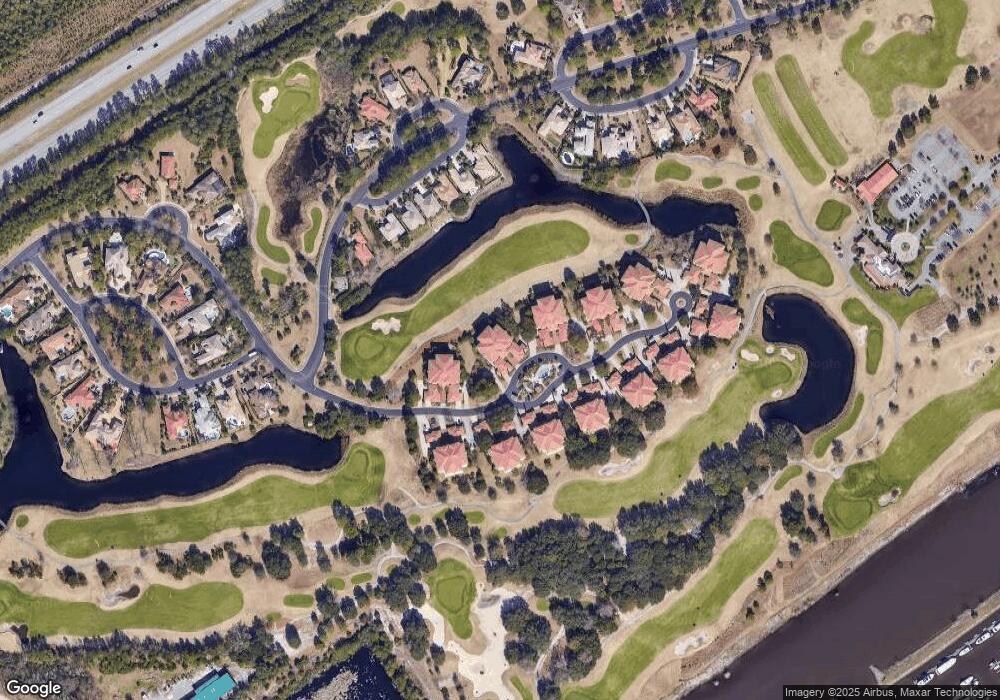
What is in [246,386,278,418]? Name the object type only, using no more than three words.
house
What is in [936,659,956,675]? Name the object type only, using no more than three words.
boat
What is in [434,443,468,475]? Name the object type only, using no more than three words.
building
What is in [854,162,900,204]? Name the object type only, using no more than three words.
barn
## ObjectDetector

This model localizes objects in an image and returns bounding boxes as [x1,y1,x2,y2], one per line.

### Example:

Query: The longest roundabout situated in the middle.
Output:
[515,360,562,401]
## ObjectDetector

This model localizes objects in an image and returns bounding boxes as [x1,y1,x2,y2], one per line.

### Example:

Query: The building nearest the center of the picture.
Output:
[477,325,526,376]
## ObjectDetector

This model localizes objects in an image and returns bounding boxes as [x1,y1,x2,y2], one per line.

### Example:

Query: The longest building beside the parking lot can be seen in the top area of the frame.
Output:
[853,233,913,293]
